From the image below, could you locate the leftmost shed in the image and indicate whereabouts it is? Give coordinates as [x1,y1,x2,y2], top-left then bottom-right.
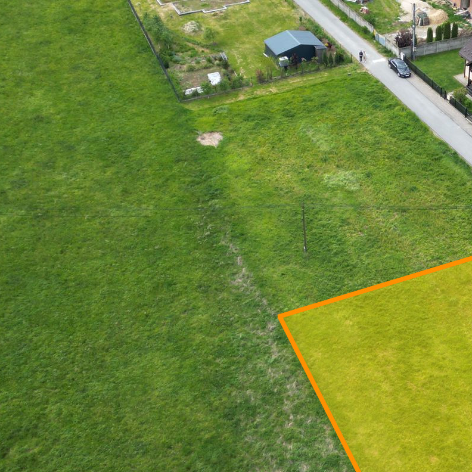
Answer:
[263,29,325,69]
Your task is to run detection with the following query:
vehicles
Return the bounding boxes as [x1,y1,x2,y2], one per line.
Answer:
[387,58,411,77]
